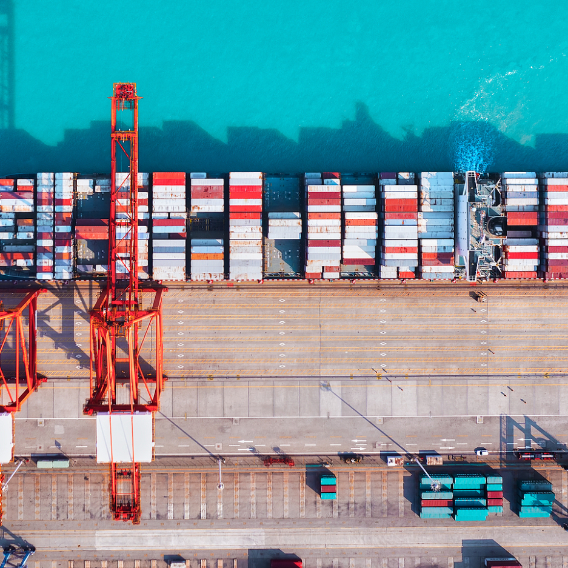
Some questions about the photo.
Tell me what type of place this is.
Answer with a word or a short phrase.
port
